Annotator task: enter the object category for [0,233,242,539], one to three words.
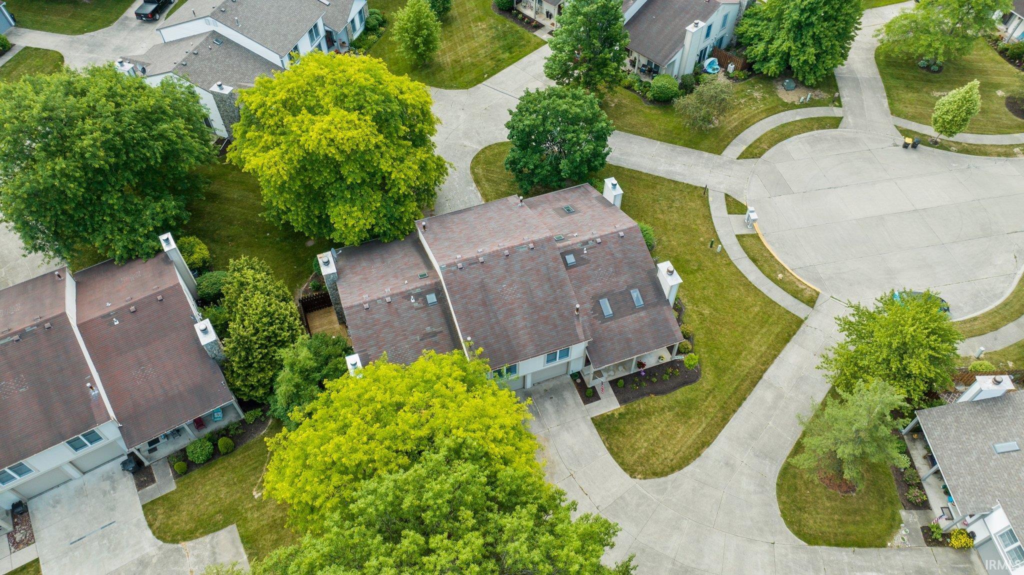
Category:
house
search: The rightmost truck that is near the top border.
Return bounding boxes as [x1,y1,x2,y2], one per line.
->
[133,0,174,23]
